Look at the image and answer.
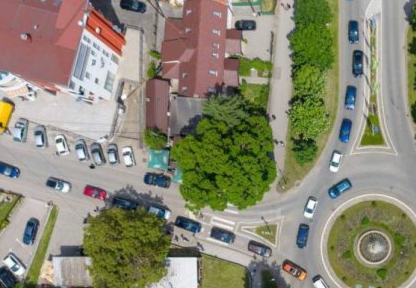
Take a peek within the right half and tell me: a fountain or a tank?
fountain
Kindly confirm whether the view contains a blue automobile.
Yes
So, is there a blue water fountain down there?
No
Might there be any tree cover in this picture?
Yes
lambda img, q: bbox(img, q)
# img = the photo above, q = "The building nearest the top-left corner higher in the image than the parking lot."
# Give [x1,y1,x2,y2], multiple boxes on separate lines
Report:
[0,0,130,106]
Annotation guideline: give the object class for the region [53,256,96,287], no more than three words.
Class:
shed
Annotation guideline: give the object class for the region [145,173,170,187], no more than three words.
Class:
vehicle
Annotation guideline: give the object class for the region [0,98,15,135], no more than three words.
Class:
vehicle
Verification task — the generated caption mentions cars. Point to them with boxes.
[46,178,71,192]
[352,50,363,76]
[304,195,317,218]
[282,260,307,278]
[55,134,70,157]
[33,126,49,149]
[313,275,329,288]
[145,173,170,187]
[173,216,200,232]
[105,143,120,166]
[211,228,235,242]
[0,263,15,277]
[83,186,108,199]
[246,240,273,256]
[147,204,171,219]
[0,163,20,177]
[338,120,351,143]
[23,218,40,243]
[112,196,139,210]
[75,139,90,162]
[329,150,342,173]
[122,146,136,166]
[344,84,357,110]
[329,180,352,197]
[90,143,106,166]
[12,119,28,143]
[297,222,309,248]
[2,253,26,272]
[347,21,358,44]
[234,18,259,31]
